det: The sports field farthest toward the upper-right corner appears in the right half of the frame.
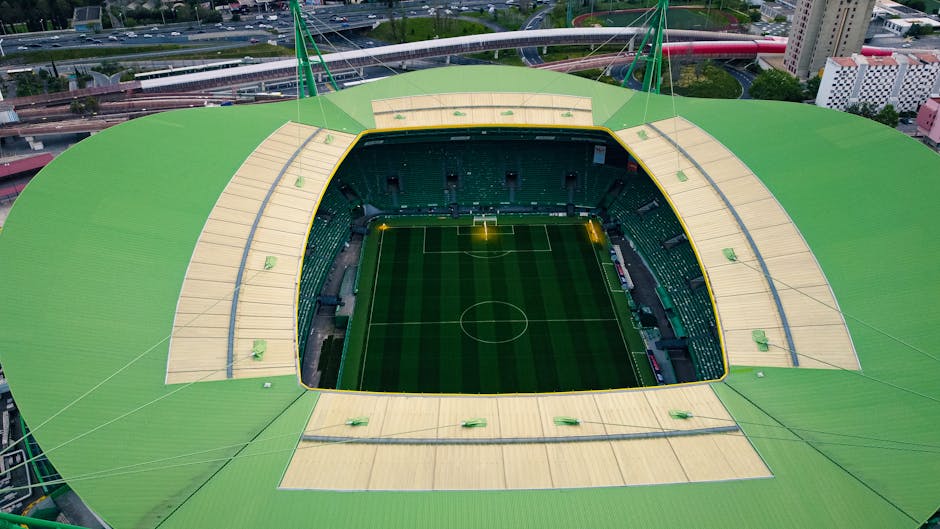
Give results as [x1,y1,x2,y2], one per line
[573,6,751,50]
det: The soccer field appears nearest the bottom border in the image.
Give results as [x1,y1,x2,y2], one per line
[357,222,644,397]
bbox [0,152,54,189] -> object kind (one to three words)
shed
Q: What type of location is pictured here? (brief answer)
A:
sports ground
